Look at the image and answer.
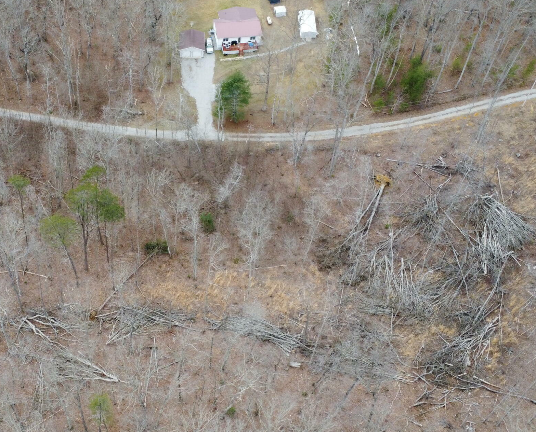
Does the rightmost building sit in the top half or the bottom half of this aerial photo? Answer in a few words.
top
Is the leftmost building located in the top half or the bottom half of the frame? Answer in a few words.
top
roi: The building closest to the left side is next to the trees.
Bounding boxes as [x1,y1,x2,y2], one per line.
[176,25,205,57]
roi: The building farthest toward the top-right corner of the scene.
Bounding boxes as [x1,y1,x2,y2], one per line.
[300,2,320,41]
